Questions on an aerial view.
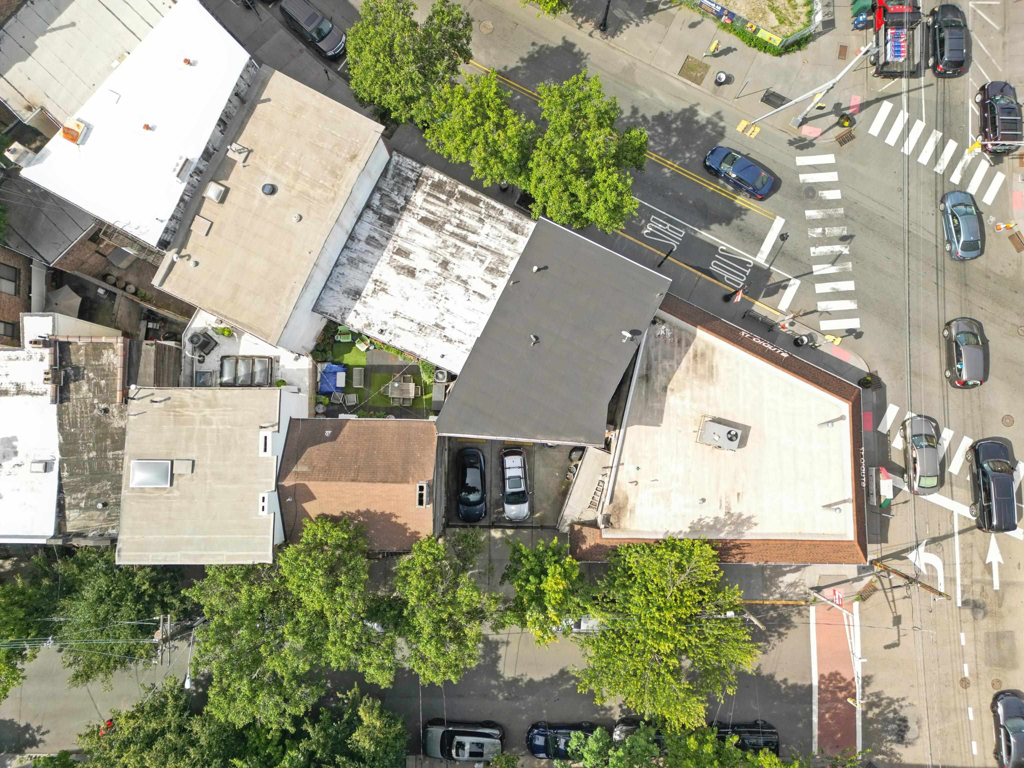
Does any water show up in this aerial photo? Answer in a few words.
No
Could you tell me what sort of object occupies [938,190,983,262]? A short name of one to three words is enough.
car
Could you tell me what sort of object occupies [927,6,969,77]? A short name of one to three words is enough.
car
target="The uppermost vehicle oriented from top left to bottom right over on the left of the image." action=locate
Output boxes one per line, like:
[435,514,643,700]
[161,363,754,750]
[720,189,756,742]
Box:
[273,0,346,56]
